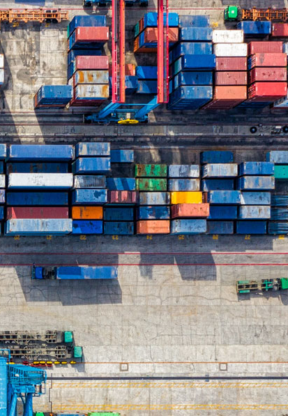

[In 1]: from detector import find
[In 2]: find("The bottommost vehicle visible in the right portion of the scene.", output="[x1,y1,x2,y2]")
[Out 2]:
[239,278,288,292]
